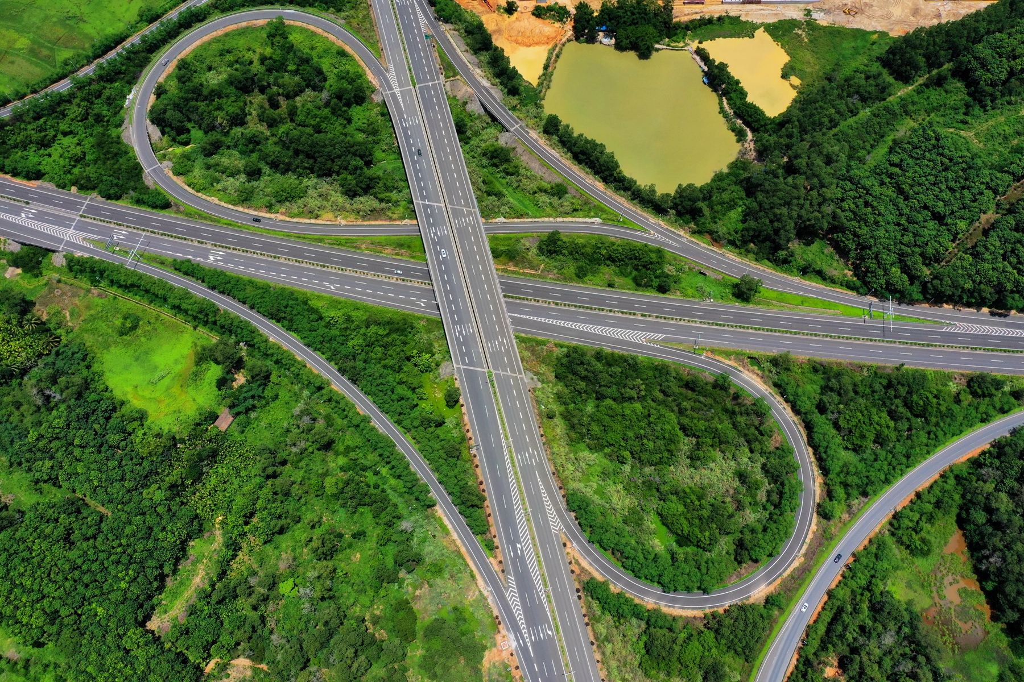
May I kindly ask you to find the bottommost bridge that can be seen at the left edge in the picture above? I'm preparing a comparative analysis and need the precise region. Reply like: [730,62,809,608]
[17,186,89,250]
